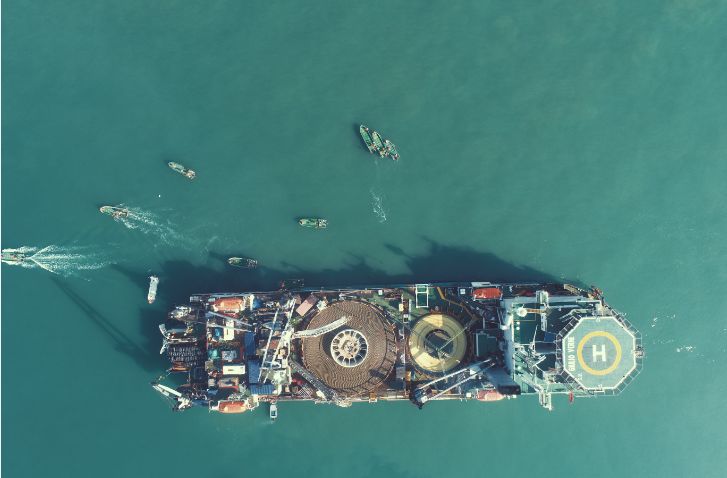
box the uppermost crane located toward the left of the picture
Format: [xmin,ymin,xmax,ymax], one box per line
[258,298,300,385]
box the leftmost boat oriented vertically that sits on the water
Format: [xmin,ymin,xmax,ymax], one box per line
[144,276,158,305]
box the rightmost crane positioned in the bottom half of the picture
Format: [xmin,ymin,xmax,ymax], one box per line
[410,352,504,406]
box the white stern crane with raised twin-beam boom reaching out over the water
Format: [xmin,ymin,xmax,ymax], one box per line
[150,374,196,413]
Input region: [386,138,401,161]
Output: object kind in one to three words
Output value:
boat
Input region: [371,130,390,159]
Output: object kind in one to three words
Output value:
boat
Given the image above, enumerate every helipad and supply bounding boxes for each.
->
[555,309,645,397]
